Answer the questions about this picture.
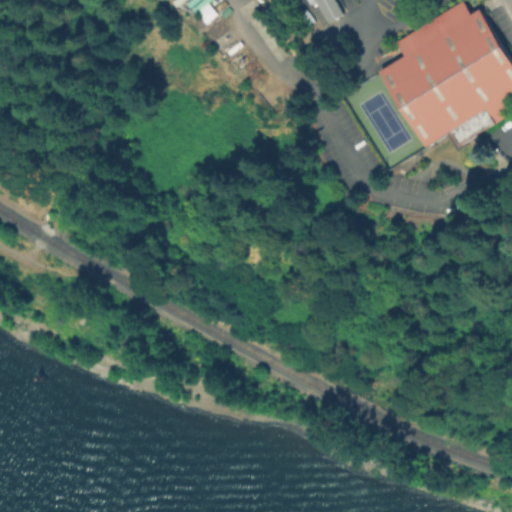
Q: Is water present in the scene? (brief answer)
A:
Yes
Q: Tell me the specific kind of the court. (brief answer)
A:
tennis court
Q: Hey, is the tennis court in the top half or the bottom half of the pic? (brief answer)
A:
top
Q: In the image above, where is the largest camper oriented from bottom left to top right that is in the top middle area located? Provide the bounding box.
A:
[228,42,245,55]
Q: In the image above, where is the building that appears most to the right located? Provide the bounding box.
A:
[378,2,512,147]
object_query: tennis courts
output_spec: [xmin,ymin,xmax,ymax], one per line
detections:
[347,76,424,169]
